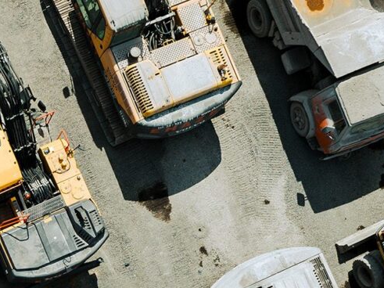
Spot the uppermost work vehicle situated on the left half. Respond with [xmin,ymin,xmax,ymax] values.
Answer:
[44,0,242,145]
